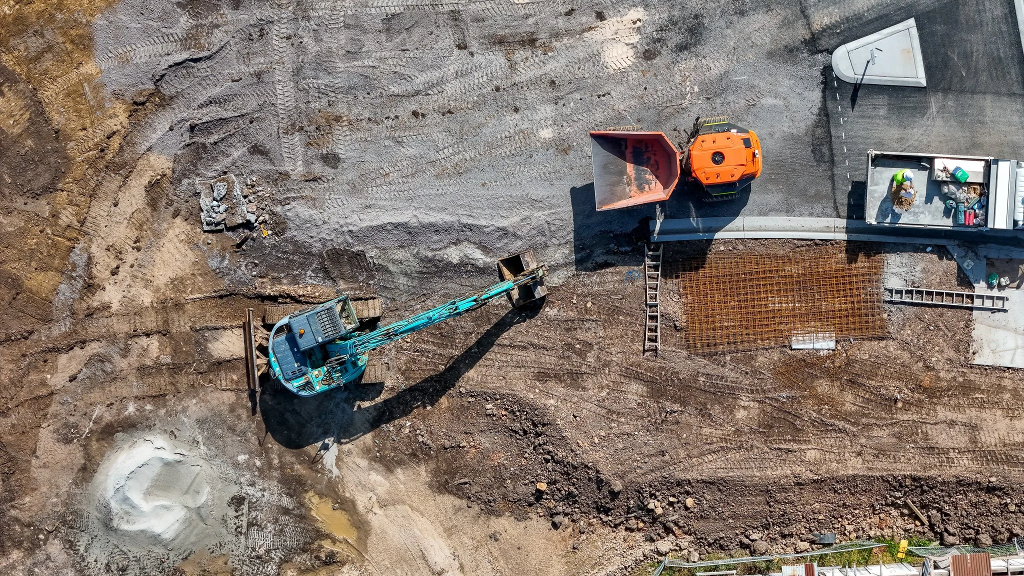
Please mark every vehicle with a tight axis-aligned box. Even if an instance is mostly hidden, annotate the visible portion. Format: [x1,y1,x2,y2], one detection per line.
[863,149,1024,233]
[243,246,555,398]
[589,114,762,211]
